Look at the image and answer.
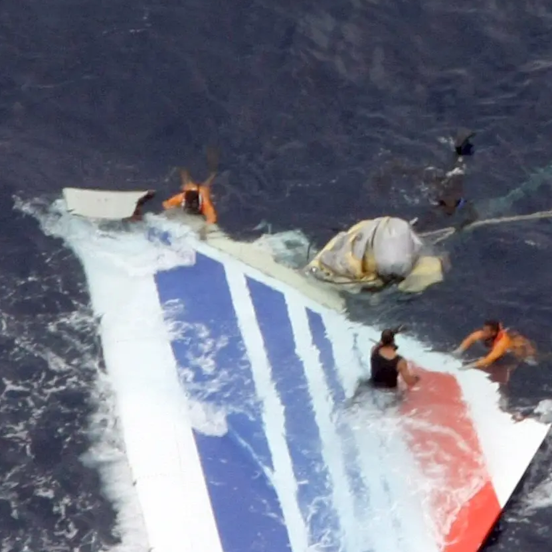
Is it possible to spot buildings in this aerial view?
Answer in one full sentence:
No, there appears to be no building in this shot.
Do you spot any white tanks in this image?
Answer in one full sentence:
No, there is no white tank in the image.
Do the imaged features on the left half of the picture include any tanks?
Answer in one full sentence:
No, looking on the left half of the picture, there is no tank.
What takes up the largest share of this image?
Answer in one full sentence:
For the most part, this view shows water.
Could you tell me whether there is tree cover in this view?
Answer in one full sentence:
No, the scene doesn't show any tree cover.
